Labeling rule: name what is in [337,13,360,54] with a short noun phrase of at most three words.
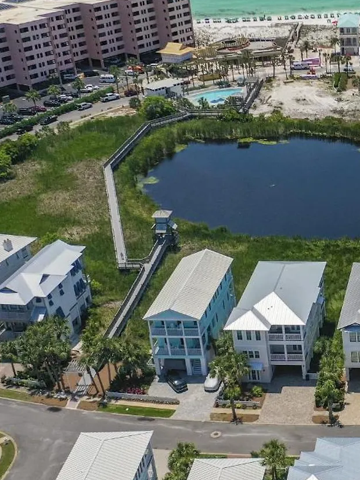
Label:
house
